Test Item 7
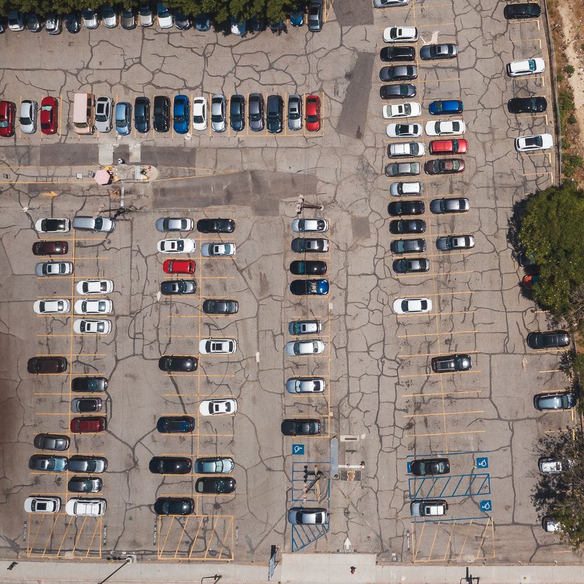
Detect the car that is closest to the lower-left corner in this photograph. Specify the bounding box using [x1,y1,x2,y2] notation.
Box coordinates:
[24,496,60,515]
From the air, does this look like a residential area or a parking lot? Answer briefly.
parking lot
